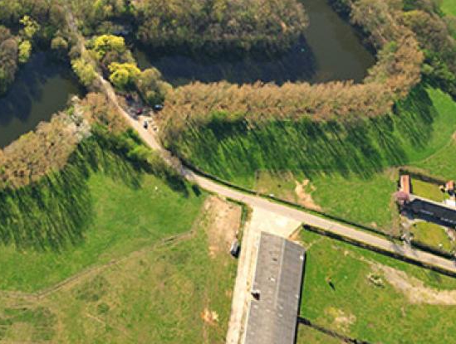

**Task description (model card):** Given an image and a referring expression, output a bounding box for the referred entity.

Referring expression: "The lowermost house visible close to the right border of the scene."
[409,196,456,238]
